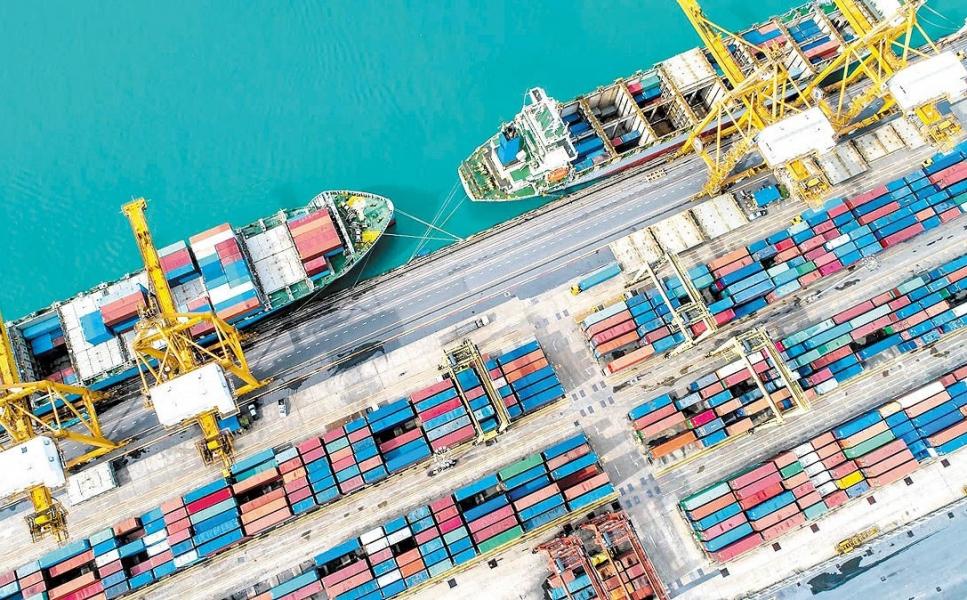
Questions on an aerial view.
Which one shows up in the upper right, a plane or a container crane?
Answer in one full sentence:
Looking in the upper right, you will find a container crane.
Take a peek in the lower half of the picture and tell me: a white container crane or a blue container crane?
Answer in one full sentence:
The feature located in the lower half of the picture is a white container crane.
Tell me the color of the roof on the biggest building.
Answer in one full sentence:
From above, the roof of the biggest building looks white.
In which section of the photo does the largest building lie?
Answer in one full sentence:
The largest building is in the bottom left part of the image.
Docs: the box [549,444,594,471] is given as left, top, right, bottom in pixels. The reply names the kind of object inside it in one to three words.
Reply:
shipping container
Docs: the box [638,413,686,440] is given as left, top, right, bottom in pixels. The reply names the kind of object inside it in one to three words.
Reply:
shipping container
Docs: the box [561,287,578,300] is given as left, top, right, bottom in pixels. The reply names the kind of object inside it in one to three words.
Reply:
vehicle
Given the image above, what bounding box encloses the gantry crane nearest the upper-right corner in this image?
[782,0,967,153]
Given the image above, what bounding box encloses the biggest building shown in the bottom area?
[68,460,122,503]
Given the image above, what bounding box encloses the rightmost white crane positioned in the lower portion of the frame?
[704,324,818,436]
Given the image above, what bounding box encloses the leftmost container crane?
[0,265,148,564]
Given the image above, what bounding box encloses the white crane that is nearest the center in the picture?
[437,337,521,446]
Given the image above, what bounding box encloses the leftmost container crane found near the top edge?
[670,0,836,211]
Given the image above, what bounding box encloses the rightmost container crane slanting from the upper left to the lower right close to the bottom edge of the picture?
[576,500,670,600]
